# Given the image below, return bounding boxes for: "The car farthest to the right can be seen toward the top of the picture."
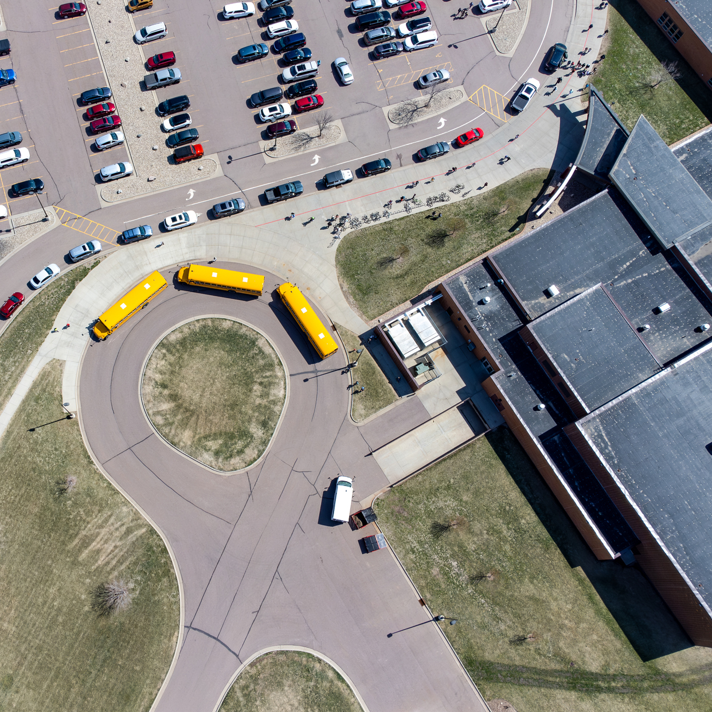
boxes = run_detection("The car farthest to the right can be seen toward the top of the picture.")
[543,41,570,76]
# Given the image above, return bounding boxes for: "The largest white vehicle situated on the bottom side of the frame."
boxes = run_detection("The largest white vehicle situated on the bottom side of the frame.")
[330,476,357,525]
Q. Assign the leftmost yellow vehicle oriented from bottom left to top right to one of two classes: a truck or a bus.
bus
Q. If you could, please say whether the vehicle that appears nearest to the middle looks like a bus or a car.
bus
